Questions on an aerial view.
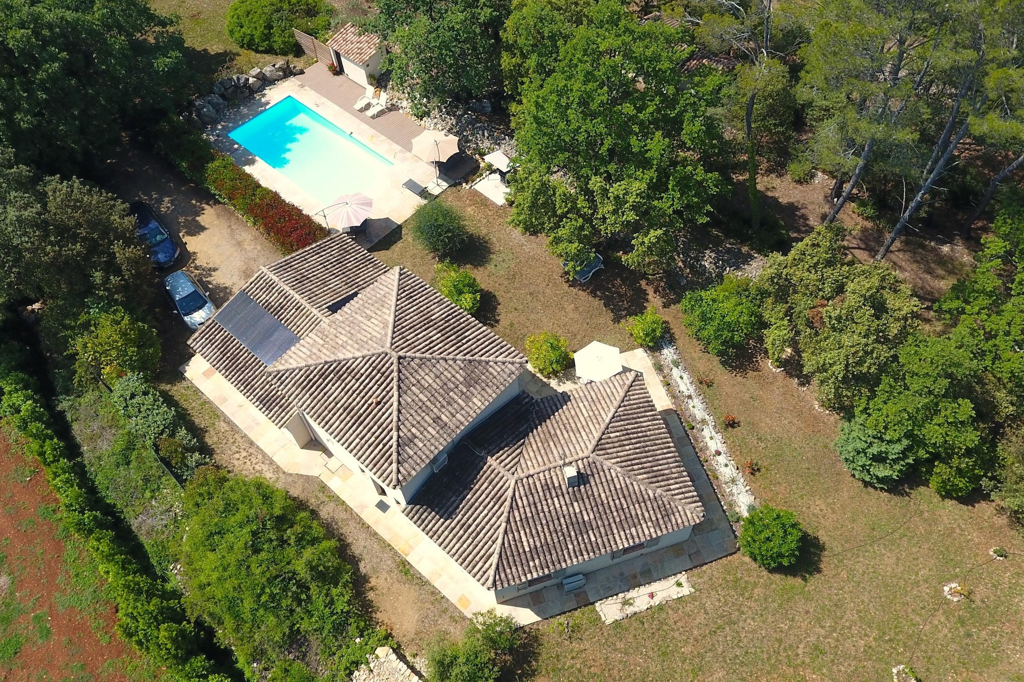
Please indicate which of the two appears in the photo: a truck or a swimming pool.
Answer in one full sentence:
It is a swimming pool that can be seen here.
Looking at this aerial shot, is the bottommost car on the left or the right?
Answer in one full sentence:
The bottommost car sits on the left side.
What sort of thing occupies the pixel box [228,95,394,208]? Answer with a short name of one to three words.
swimming pool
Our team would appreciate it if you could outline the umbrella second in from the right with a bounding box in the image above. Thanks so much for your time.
[410,133,460,190]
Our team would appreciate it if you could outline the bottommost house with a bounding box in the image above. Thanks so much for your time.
[188,230,706,604]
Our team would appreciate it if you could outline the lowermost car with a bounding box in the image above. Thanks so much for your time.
[158,266,211,330]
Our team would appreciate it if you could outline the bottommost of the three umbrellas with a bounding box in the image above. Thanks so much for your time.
[575,342,622,387]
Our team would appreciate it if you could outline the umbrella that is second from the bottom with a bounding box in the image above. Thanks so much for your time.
[313,195,373,231]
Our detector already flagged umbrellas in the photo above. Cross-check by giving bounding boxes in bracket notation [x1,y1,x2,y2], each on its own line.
[313,195,373,231]
[410,133,460,190]
[575,342,622,387]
